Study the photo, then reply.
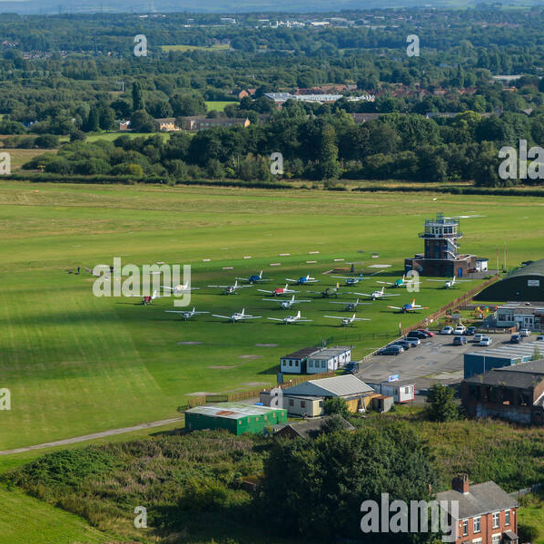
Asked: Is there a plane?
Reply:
Yes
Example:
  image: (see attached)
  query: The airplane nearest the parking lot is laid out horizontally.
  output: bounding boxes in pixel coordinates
[385,300,430,315]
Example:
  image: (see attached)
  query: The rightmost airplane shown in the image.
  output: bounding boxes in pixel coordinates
[430,274,468,289]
